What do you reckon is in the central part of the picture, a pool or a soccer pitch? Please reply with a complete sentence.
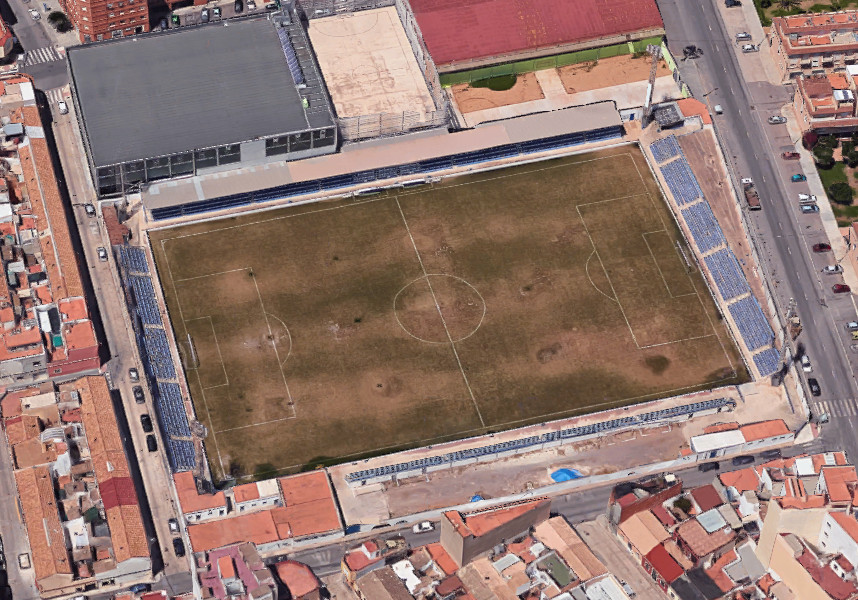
The feature located in the central part of the picture is a soccer pitch.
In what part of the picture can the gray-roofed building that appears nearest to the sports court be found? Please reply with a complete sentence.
The gray-roofed building that appears nearest to the sports court is in the top left part of the image.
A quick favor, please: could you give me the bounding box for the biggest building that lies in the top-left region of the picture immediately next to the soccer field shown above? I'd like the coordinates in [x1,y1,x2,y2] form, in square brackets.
[62,6,340,201]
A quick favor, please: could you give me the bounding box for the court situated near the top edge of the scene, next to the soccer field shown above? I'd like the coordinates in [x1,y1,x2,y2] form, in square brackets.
[305,8,443,137]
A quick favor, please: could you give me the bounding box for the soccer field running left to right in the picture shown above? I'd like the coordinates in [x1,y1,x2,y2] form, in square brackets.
[147,142,754,492]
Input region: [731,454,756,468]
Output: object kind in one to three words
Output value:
car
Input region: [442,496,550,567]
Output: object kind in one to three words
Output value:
house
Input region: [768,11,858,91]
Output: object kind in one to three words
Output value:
building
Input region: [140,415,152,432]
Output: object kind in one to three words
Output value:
vehicle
